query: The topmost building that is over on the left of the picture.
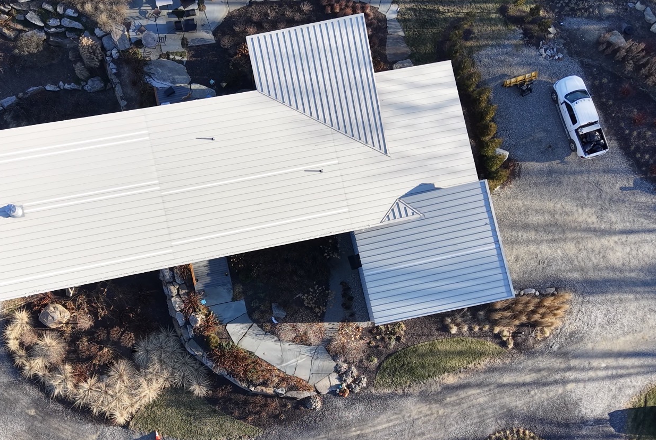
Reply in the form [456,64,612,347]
[0,12,477,302]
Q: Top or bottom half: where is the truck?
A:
top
